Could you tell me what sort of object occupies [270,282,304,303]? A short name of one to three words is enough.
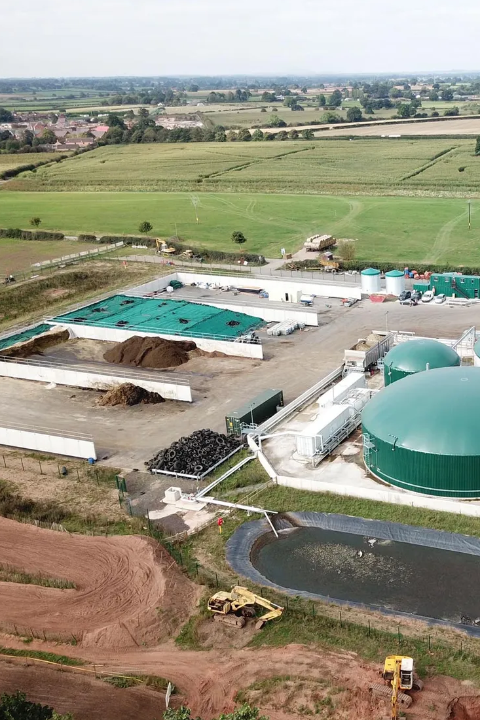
building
